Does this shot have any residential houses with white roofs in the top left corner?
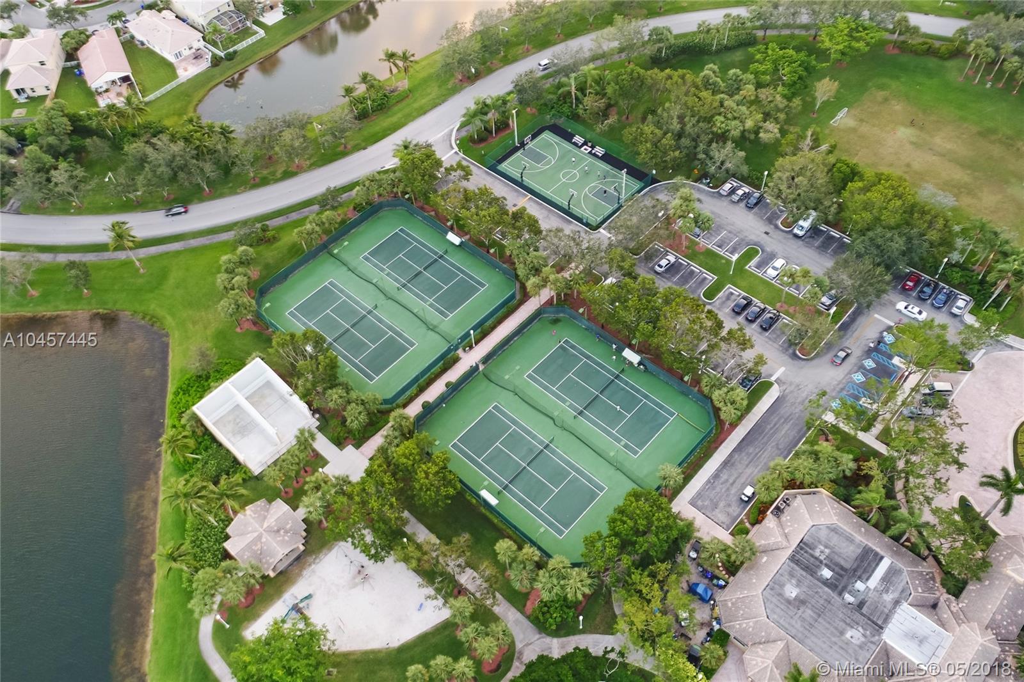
Yes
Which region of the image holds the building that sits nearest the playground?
bottom left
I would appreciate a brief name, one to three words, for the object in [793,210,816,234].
vehicle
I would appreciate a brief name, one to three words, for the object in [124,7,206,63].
house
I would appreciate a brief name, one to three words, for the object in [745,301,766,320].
car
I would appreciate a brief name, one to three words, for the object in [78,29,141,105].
house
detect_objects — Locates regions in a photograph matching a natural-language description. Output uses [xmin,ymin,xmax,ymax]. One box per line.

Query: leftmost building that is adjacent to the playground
[224,499,313,584]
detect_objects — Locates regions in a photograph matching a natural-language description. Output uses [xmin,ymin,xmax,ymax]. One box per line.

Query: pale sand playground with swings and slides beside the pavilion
[244,537,448,652]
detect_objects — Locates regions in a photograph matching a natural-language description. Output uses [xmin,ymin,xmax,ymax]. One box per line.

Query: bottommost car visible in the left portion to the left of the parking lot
[165,203,187,216]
